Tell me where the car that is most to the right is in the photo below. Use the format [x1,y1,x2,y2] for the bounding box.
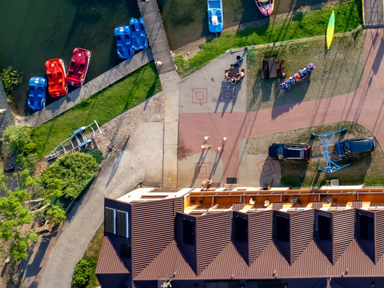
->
[334,134,377,161]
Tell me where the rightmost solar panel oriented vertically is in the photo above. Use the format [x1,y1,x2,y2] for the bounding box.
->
[358,211,372,243]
